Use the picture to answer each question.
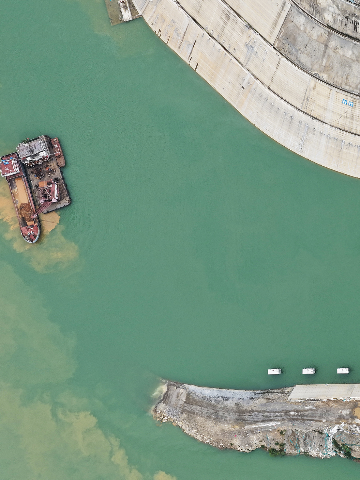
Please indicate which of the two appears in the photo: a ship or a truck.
ship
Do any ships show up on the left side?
Yes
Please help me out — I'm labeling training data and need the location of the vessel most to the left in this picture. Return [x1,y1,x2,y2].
[0,152,43,244]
